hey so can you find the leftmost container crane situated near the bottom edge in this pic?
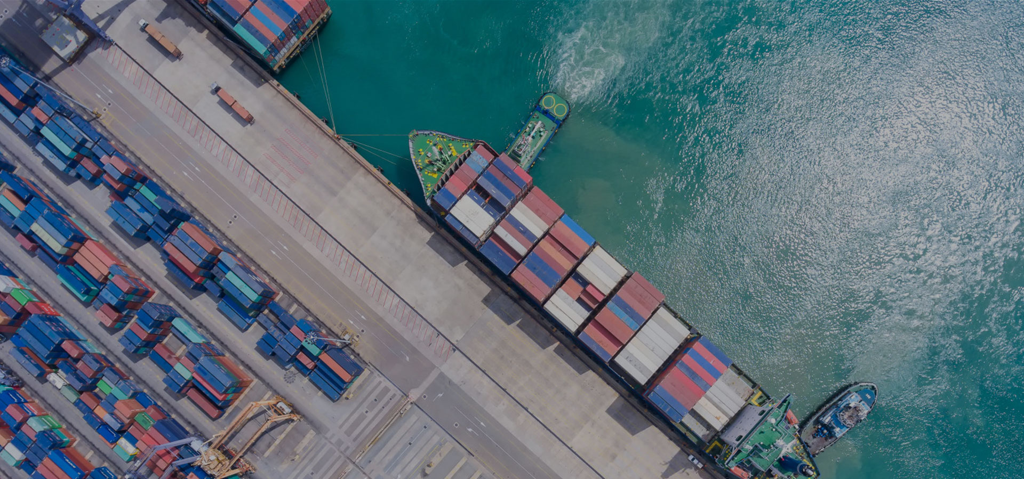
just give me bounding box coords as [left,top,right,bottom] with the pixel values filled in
[122,435,207,479]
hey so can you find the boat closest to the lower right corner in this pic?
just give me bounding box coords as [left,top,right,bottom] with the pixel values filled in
[796,382,876,458]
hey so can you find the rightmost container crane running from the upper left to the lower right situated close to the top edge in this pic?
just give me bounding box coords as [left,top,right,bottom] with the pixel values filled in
[57,0,118,45]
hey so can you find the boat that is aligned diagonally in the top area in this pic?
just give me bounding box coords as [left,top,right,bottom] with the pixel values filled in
[504,92,570,172]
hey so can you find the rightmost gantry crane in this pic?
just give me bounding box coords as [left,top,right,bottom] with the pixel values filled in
[192,395,300,479]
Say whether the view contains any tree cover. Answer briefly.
No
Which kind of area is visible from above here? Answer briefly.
port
